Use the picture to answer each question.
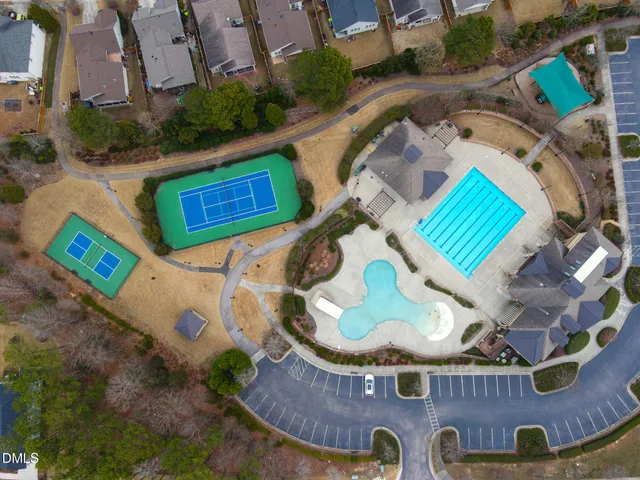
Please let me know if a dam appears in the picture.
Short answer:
No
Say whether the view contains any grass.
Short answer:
Yes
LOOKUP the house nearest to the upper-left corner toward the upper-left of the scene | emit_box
[0,10,45,82]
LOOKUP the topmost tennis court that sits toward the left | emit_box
[149,149,302,249]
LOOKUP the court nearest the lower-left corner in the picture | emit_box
[41,212,141,300]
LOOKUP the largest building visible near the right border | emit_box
[502,226,624,366]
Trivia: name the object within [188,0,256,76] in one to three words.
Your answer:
house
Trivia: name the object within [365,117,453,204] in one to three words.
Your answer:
building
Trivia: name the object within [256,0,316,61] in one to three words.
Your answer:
house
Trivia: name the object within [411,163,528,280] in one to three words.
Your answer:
swimming pool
